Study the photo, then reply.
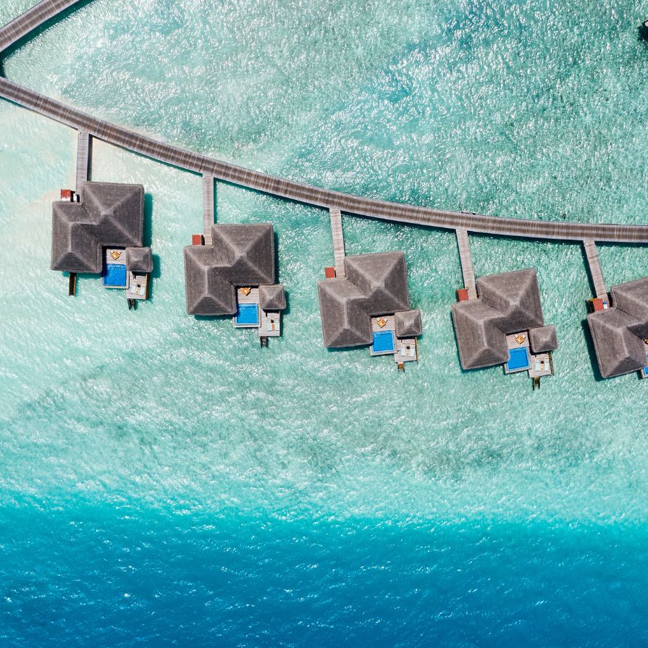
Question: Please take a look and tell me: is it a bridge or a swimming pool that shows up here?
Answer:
swimming pool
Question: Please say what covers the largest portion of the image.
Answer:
water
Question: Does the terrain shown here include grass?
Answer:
No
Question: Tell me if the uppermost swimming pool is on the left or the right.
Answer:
left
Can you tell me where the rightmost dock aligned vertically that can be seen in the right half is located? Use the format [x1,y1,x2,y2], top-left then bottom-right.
[582,240,610,310]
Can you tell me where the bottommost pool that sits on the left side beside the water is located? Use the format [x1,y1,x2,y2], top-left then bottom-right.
[235,301,261,327]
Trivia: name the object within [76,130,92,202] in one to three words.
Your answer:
pier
